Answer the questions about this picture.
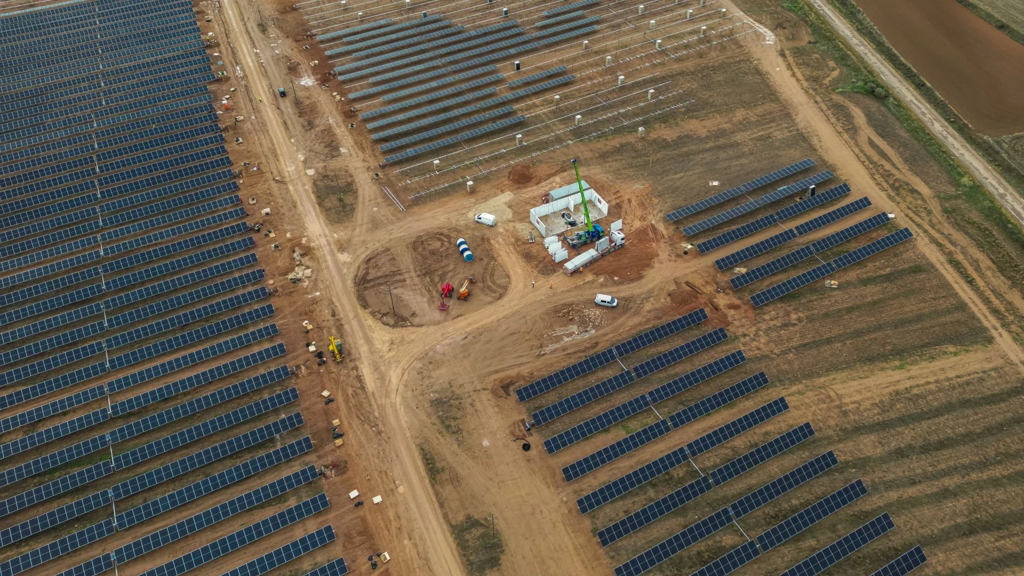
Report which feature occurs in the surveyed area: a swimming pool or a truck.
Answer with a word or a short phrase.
truck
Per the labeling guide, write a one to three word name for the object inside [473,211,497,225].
vehicle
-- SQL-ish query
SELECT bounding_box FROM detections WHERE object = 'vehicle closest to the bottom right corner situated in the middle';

[593,291,619,307]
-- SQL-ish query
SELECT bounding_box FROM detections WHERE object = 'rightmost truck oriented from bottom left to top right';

[563,230,628,273]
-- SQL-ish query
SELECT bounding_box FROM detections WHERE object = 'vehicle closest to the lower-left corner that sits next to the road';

[326,330,345,365]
